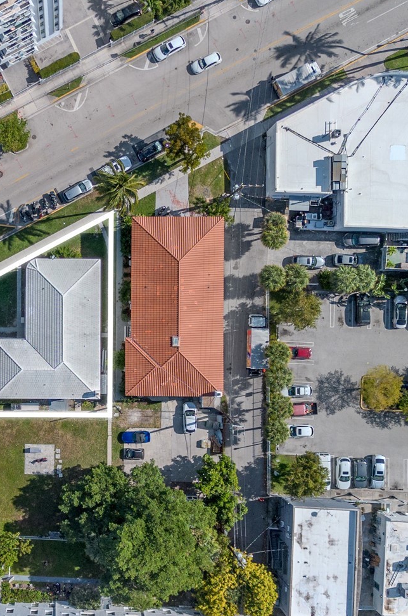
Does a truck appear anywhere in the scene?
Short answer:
Yes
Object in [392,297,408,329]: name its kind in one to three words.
car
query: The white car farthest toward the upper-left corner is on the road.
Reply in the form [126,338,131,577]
[152,37,186,62]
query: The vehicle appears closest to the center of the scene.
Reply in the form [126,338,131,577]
[245,318,267,370]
